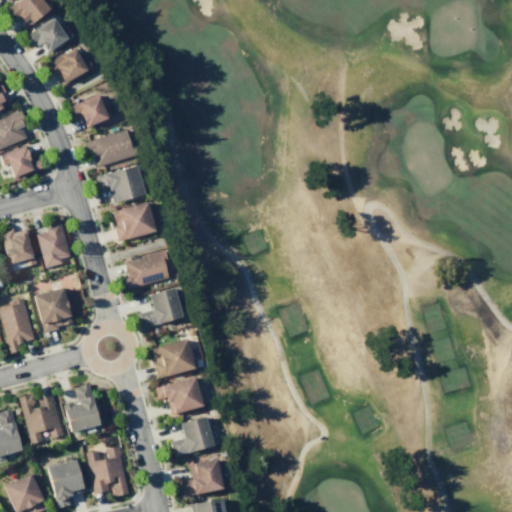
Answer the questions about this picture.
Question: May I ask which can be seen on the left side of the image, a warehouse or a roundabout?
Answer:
roundabout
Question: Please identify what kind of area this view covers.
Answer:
golf course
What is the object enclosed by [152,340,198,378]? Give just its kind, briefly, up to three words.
house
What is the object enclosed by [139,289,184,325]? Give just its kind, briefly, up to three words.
house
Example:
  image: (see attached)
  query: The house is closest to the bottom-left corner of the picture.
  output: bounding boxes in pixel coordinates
[6,476,44,512]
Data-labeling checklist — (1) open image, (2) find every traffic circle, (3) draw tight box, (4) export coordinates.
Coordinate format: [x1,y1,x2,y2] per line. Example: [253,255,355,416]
[82,320,138,376]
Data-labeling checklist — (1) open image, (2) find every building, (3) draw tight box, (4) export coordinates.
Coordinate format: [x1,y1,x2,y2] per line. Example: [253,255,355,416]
[86,448,129,496]
[0,300,32,354]
[2,144,44,180]
[50,49,89,83]
[20,394,66,446]
[112,202,158,240]
[2,228,36,264]
[171,419,215,455]
[186,458,226,495]
[0,408,20,455]
[96,165,143,202]
[72,96,111,128]
[152,340,198,378]
[32,18,70,52]
[6,476,44,512]
[139,289,184,325]
[36,225,70,267]
[198,498,228,512]
[83,130,138,166]
[124,250,171,285]
[48,460,84,508]
[0,110,30,150]
[36,288,74,332]
[14,0,51,24]
[156,376,206,416]
[66,383,101,432]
